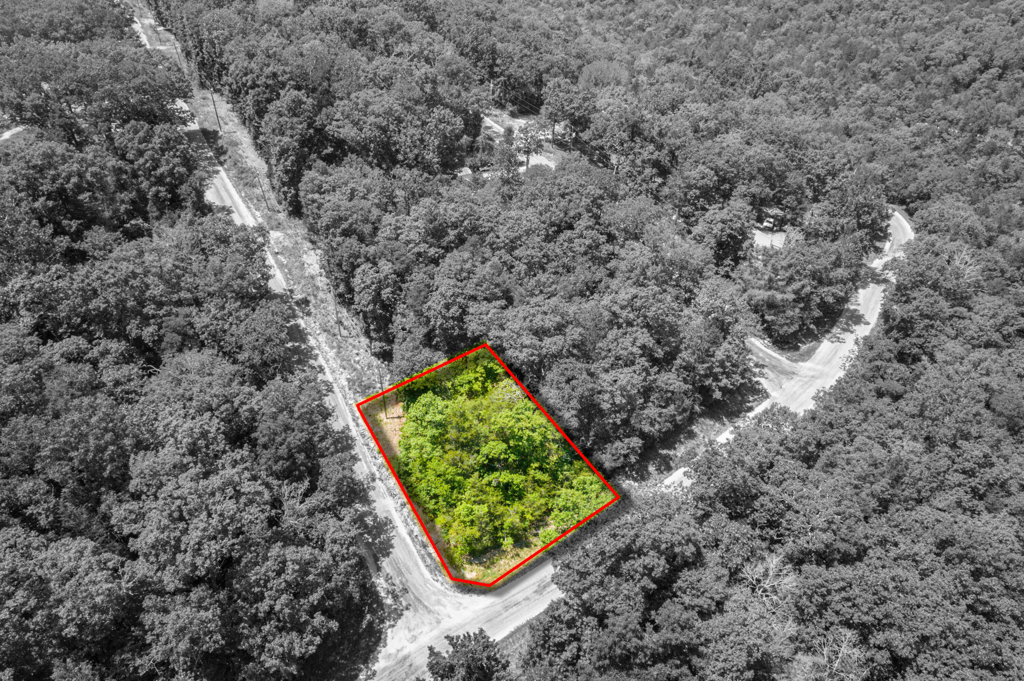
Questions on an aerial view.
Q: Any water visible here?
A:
No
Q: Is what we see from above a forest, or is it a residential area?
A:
forest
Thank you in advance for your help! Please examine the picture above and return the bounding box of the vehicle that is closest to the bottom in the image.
[760,208,774,228]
